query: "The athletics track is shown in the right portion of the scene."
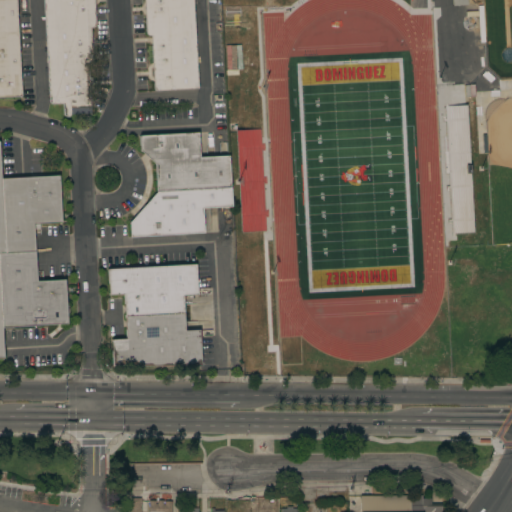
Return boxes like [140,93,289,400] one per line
[264,0,446,362]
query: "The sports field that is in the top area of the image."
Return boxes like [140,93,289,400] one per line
[289,51,423,298]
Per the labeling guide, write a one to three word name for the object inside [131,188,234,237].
building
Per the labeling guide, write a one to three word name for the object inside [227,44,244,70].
shed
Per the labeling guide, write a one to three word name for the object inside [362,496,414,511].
house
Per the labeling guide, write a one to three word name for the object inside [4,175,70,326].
building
